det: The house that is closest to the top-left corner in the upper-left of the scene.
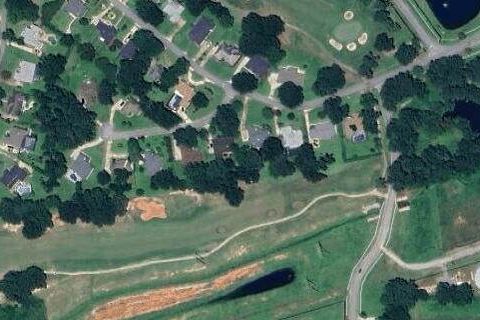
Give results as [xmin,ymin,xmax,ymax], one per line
[20,24,44,49]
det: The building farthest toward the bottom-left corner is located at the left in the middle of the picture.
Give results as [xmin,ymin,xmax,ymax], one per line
[1,162,29,190]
